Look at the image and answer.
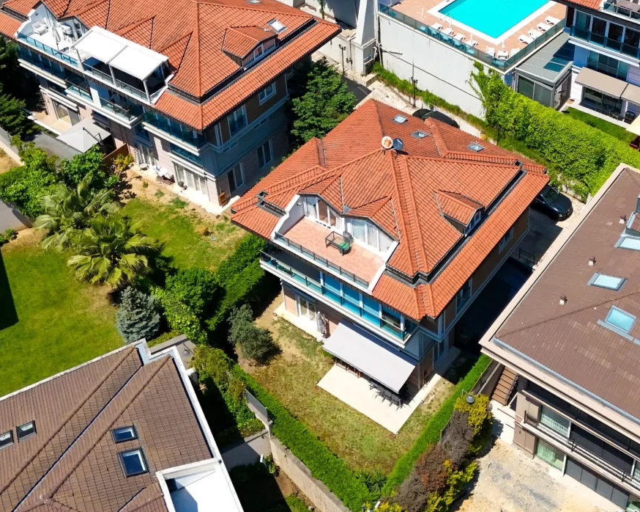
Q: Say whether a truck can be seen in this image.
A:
No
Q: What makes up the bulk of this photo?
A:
buildings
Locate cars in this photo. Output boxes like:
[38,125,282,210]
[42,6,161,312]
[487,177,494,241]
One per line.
[529,195,579,236]
[410,104,464,136]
